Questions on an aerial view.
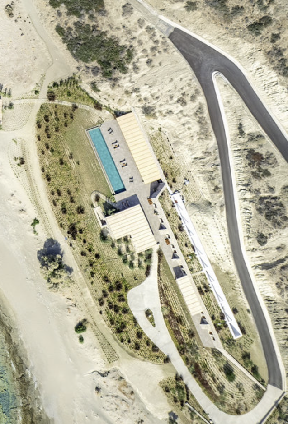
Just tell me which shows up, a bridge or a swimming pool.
swimming pool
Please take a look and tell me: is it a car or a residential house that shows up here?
residential house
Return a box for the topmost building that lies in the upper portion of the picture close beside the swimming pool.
[116,111,161,184]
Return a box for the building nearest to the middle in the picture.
[105,204,157,252]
